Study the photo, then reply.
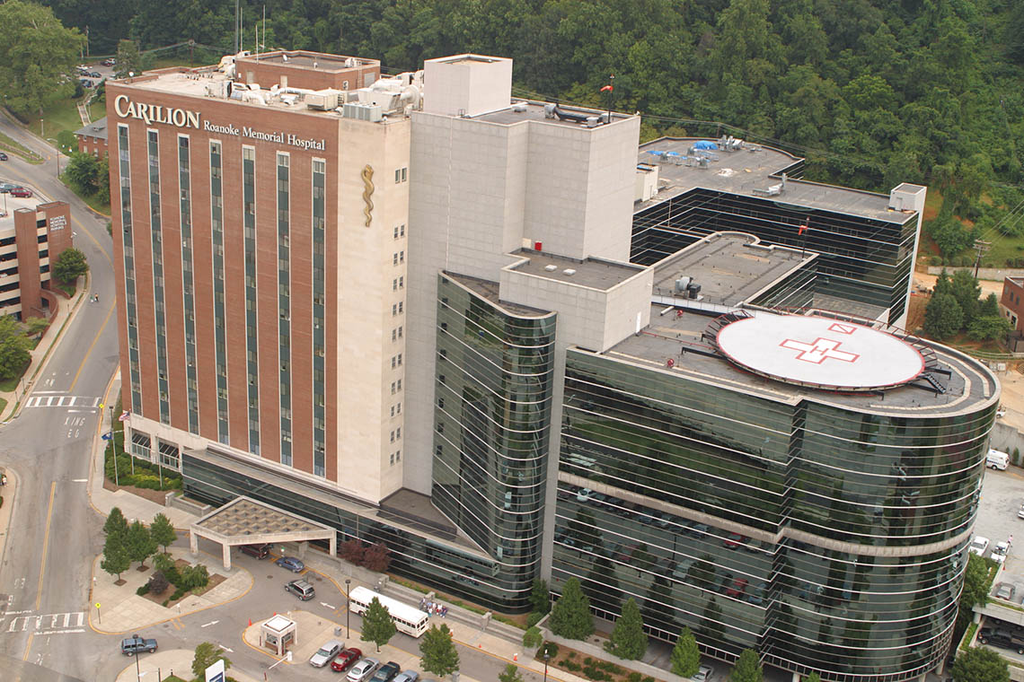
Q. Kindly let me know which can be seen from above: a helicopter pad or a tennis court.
helicopter pad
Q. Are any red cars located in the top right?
No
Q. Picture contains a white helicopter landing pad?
Yes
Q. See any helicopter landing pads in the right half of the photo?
Yes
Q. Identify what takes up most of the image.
buildings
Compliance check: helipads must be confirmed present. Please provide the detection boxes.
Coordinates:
[682,310,953,412]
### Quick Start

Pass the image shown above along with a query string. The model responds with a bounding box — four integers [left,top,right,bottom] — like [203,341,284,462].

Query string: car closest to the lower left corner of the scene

[122,633,156,651]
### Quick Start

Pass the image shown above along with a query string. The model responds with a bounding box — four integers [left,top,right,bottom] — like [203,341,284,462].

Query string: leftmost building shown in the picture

[0,170,75,323]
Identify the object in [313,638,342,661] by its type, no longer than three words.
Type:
car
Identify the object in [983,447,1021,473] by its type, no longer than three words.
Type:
vehicle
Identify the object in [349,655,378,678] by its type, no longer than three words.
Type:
car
